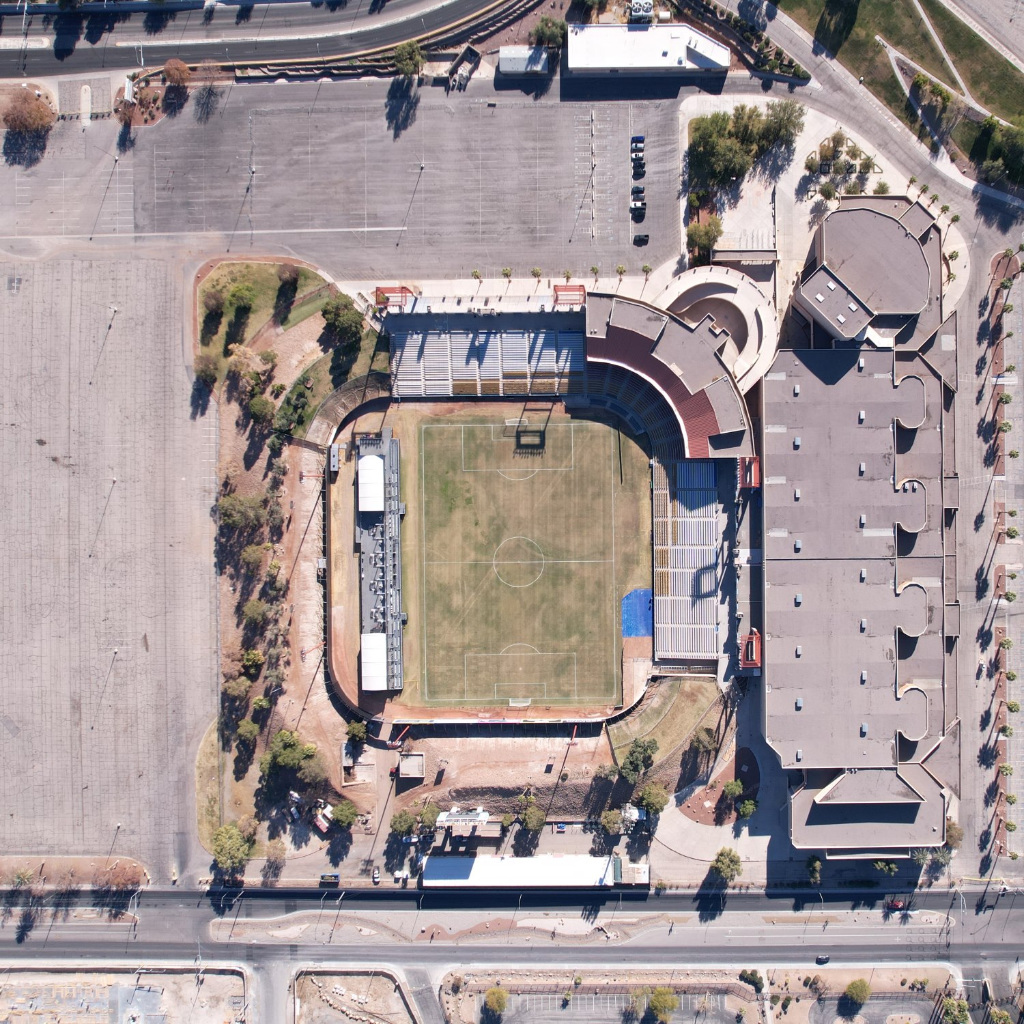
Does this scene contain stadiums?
Yes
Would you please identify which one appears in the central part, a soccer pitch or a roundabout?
soccer pitch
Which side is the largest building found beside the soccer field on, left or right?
right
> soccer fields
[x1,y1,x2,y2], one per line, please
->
[417,411,653,708]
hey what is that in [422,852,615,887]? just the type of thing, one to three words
shed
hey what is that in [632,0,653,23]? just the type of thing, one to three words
cooling tower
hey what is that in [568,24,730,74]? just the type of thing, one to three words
building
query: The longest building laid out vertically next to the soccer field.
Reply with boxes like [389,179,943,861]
[758,312,960,858]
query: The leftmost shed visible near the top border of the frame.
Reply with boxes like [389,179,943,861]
[499,45,549,78]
